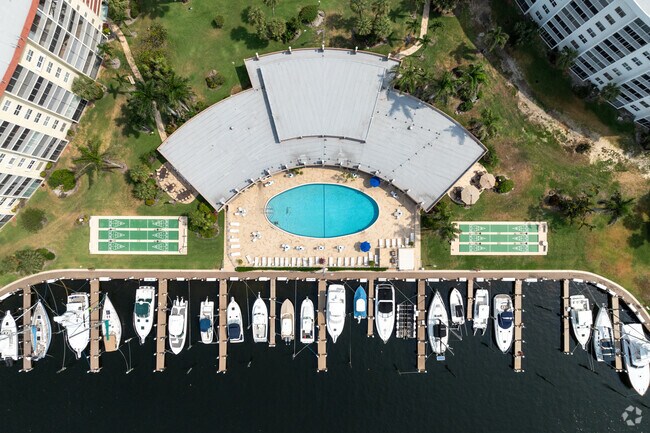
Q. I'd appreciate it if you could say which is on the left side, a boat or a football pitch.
boat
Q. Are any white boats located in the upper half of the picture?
No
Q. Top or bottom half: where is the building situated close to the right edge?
top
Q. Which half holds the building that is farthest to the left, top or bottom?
top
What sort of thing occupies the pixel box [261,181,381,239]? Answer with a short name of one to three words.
swimming pool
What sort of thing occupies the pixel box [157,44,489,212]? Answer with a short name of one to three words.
building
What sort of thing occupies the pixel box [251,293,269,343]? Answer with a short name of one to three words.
boat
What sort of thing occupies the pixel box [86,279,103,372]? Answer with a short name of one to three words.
pier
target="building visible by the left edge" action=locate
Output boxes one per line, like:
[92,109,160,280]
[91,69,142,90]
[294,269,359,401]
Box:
[0,0,114,231]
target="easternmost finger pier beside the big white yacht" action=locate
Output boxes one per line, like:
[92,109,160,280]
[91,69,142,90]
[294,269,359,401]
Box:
[608,295,627,371]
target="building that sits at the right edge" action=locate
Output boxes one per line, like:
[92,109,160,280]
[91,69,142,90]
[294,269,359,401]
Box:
[515,0,650,130]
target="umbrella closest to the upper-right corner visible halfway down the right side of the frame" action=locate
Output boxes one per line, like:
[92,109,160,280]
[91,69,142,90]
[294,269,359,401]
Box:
[480,174,495,189]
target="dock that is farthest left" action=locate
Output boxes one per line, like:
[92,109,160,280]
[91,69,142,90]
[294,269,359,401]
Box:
[17,284,37,371]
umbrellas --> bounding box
[360,241,371,252]
[480,174,495,189]
[370,177,381,187]
[461,186,479,204]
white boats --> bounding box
[167,297,190,355]
[0,303,53,359]
[0,312,22,363]
[251,293,269,343]
[569,293,592,350]
[225,297,244,344]
[326,283,347,343]
[449,288,465,326]
[279,299,295,344]
[300,296,316,343]
[133,283,157,345]
[620,318,650,397]
[199,298,216,343]
[472,289,490,333]
[374,283,396,342]
[49,290,90,359]
[425,290,458,359]
[77,294,123,350]
[490,291,514,354]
